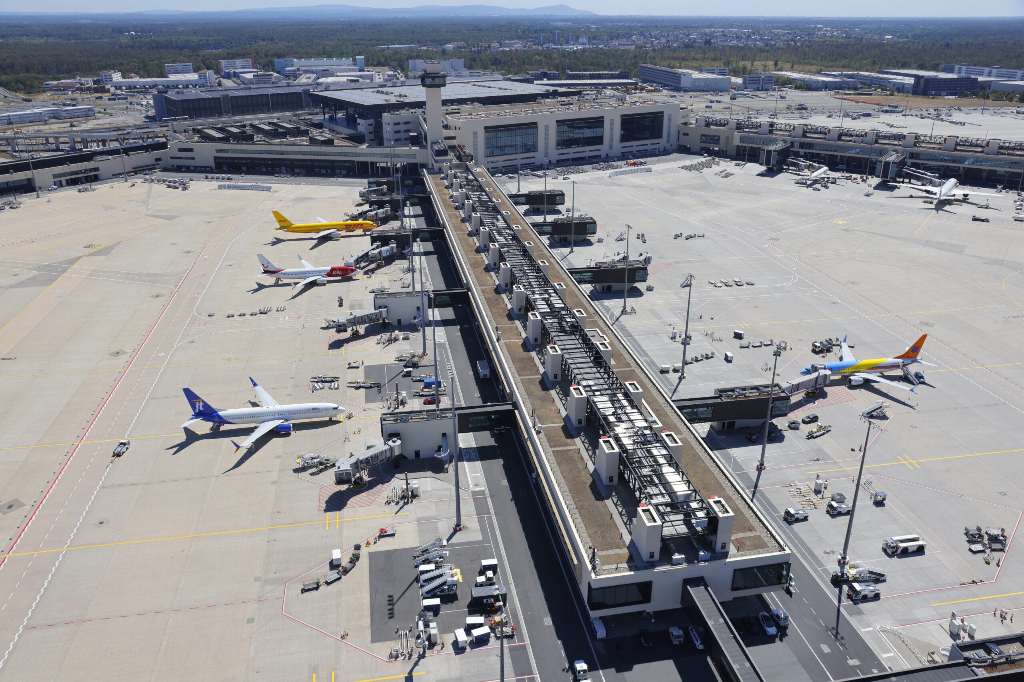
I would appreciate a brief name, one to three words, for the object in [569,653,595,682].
work vehicle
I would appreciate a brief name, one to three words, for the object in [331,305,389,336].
jet bridge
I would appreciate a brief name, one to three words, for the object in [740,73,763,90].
building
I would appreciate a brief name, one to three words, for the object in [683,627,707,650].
car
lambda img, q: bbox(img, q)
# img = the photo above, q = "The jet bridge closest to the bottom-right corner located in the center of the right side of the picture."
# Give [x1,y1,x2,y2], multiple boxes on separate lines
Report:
[790,365,830,402]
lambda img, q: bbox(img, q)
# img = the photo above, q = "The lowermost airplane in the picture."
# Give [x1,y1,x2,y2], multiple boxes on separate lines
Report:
[182,375,346,454]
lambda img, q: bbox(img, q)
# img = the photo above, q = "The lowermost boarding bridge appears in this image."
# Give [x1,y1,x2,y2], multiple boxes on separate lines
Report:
[330,435,403,494]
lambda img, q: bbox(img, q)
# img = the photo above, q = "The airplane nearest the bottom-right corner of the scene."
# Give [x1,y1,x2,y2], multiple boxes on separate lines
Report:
[799,333,937,396]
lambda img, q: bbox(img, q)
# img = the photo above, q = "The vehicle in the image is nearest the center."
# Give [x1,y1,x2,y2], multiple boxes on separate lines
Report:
[476,359,490,376]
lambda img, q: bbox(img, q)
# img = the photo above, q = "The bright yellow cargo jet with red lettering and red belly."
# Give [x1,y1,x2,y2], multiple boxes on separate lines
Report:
[277,208,377,237]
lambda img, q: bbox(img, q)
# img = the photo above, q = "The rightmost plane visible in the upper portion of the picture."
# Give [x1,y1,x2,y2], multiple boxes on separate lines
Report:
[891,178,1013,201]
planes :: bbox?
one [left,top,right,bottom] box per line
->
[259,252,362,284]
[799,333,937,396]
[891,178,1013,201]
[182,375,346,454]
[277,208,377,237]
[790,166,849,181]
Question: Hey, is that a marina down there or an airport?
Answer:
airport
